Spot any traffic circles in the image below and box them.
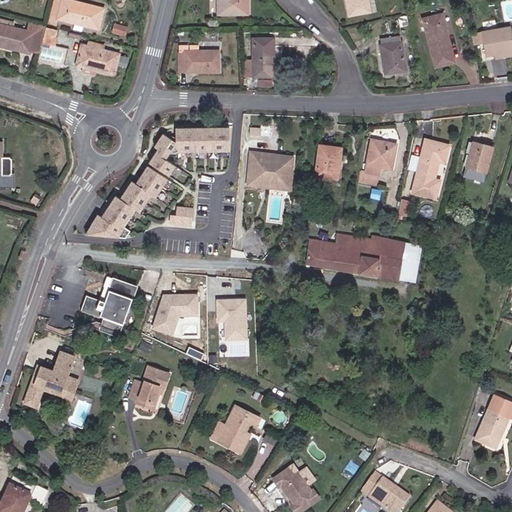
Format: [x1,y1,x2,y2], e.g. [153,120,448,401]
[76,111,136,170]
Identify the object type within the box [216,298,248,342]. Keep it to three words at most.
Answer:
house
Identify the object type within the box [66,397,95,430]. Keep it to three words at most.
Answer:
swimming pool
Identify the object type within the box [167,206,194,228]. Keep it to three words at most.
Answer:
building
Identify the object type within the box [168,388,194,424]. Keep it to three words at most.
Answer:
swimming pool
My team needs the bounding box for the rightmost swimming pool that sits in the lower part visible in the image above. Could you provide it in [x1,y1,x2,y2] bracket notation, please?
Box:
[308,441,326,462]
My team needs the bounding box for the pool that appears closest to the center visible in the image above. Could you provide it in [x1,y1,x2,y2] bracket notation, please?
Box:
[266,191,288,224]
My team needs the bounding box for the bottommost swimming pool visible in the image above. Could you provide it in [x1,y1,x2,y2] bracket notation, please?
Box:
[164,492,196,512]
